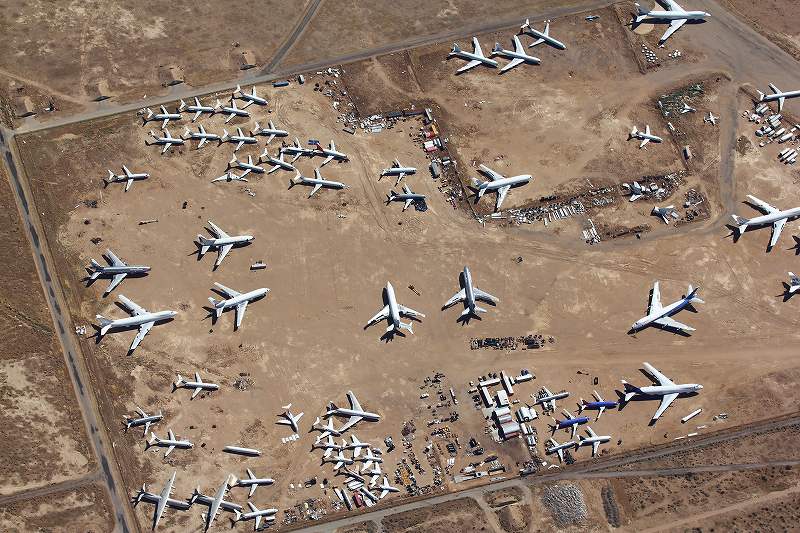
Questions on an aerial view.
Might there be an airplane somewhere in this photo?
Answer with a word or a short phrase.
Yes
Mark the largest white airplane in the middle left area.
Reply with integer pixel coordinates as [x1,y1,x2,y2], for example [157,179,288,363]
[98,295,178,350]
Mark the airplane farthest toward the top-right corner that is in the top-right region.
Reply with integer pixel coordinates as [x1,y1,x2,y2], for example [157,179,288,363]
[761,84,800,113]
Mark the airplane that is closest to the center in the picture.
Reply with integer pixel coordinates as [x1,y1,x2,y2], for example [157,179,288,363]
[368,281,424,330]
